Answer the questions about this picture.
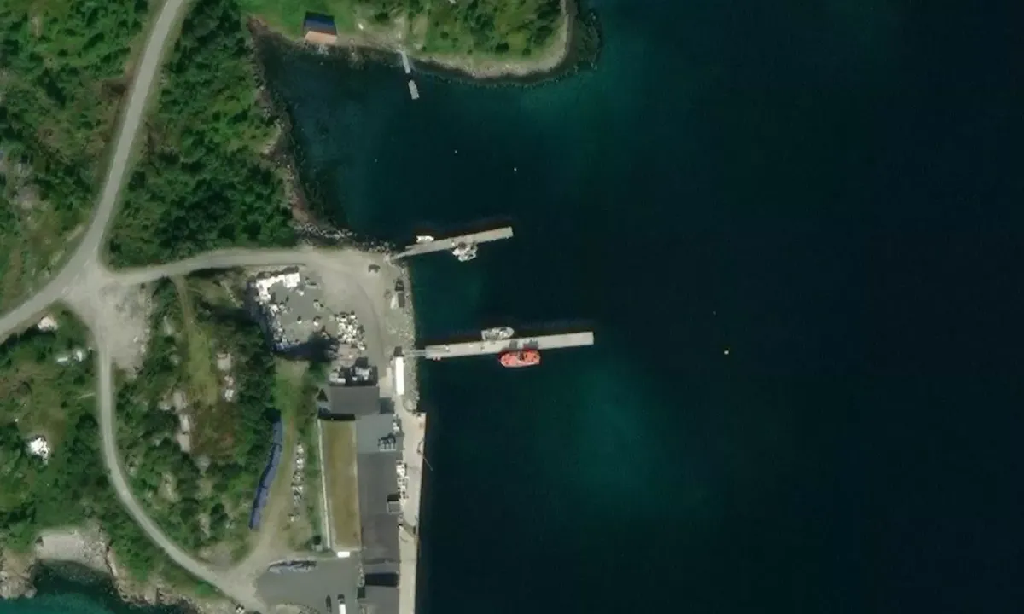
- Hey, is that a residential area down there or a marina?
marina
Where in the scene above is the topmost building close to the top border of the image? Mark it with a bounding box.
[305,19,337,45]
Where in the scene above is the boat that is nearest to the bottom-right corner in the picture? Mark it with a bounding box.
[498,348,543,367]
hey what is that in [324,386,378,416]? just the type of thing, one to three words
shed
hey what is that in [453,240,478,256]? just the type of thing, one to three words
boat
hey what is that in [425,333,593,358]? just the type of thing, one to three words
pier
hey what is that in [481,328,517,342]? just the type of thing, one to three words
boat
